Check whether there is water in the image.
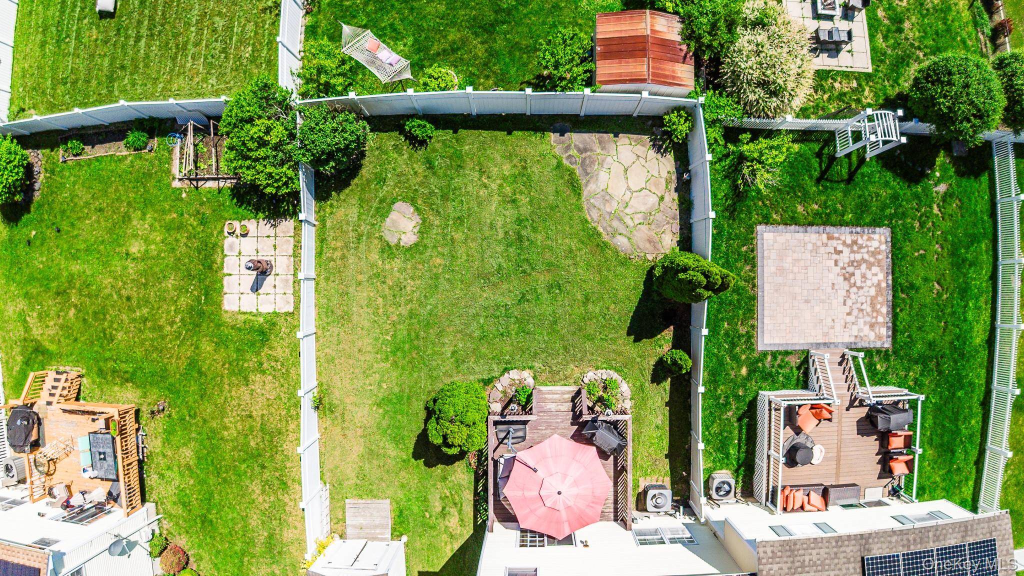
No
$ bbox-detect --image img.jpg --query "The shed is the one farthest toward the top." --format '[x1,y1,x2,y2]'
[591,10,695,105]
